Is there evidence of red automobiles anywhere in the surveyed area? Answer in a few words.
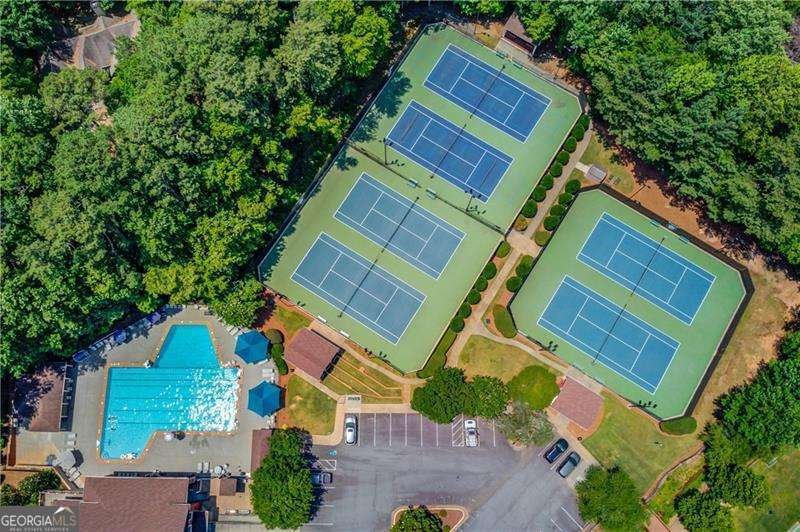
No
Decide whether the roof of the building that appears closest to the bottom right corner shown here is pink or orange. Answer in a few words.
pink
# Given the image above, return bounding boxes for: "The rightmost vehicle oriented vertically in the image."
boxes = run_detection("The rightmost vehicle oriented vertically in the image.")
[464,418,477,449]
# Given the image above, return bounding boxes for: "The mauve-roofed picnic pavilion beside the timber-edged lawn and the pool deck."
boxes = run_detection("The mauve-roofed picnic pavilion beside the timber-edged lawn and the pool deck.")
[285,329,341,374]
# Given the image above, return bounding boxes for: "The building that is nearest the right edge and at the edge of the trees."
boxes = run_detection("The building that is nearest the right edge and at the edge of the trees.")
[552,377,604,430]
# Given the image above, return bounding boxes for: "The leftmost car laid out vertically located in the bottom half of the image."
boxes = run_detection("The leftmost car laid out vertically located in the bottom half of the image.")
[344,416,357,445]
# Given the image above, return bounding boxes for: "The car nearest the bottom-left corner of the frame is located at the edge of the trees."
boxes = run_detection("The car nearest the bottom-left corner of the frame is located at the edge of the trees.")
[307,473,334,486]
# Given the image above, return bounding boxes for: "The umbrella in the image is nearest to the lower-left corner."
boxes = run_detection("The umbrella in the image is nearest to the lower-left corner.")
[52,452,73,472]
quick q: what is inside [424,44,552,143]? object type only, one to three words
tennis court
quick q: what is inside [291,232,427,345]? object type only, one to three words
tennis court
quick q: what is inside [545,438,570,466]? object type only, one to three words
car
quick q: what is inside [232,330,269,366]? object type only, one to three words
umbrella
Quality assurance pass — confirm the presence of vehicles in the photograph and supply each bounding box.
[545,438,570,466]
[557,452,583,480]
[464,418,477,449]
[307,473,334,486]
[344,416,357,445]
